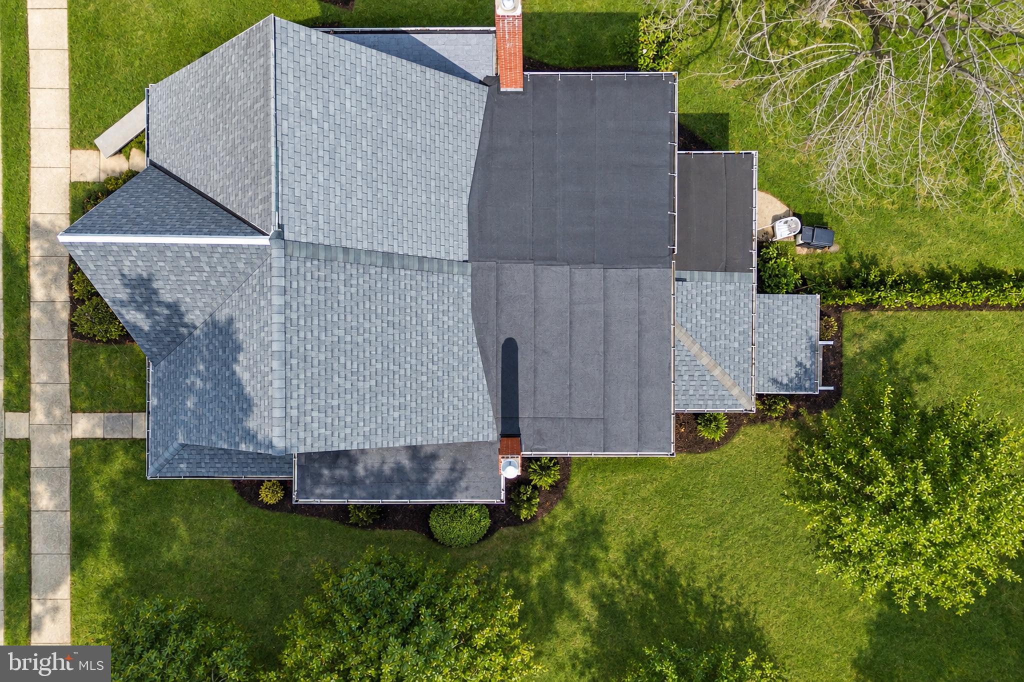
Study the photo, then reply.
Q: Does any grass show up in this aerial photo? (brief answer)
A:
Yes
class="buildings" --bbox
[56,0,818,507]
